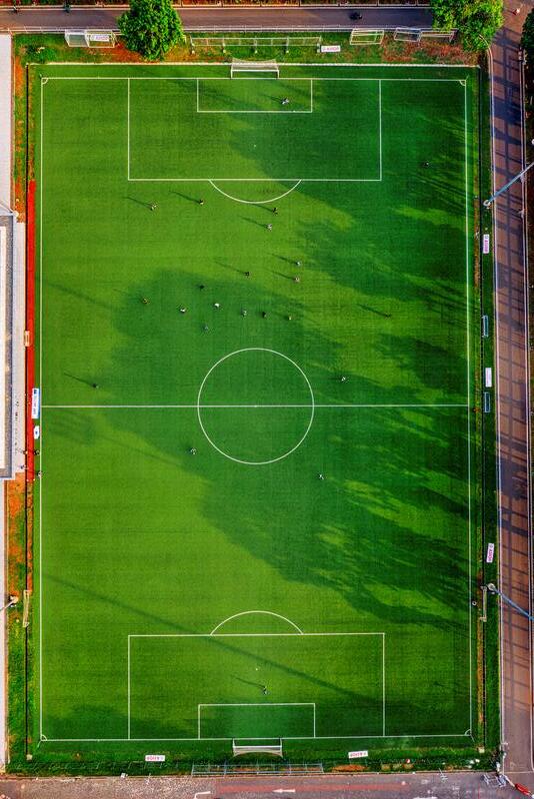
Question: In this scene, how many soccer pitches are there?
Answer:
1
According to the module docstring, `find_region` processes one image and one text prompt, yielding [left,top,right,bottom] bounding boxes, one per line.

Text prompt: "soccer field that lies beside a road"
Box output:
[27,62,479,749]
